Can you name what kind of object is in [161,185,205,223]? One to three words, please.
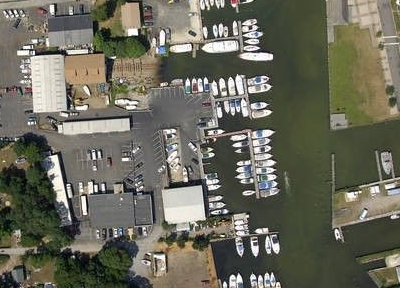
shed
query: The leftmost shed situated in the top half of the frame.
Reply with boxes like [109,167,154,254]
[32,55,66,112]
